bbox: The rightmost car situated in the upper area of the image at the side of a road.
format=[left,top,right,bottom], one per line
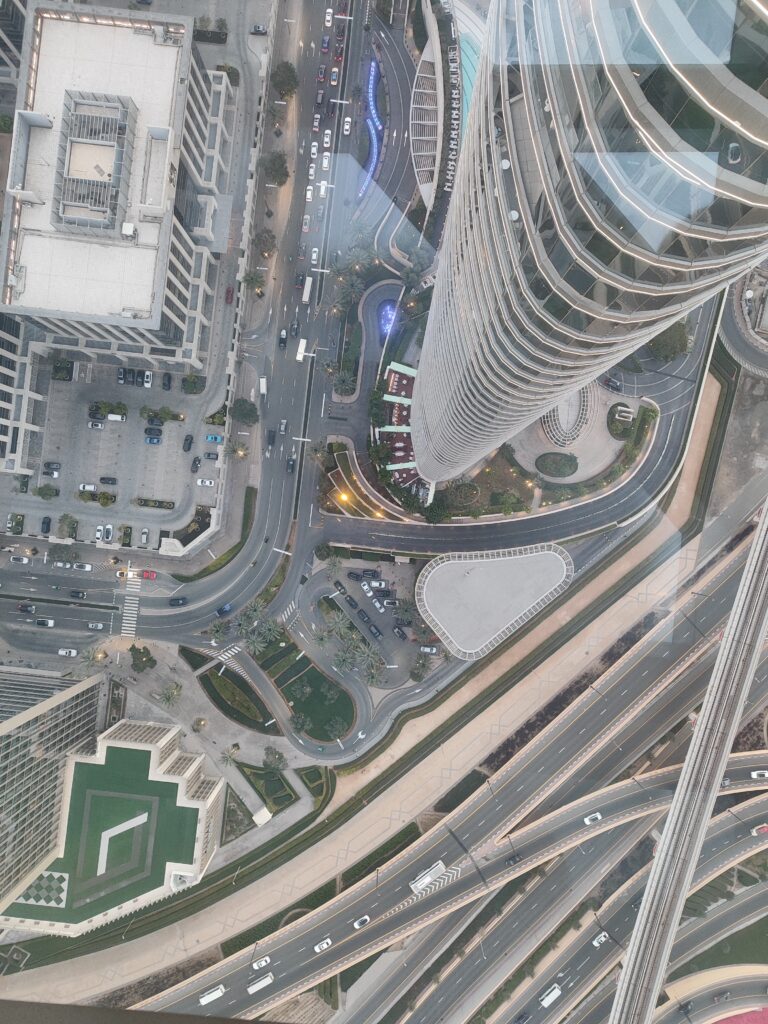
[604,379,622,391]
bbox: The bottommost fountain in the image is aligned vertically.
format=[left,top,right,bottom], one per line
[380,297,397,344]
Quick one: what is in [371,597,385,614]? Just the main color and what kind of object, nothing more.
white car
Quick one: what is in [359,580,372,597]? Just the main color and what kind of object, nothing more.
white vehicle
